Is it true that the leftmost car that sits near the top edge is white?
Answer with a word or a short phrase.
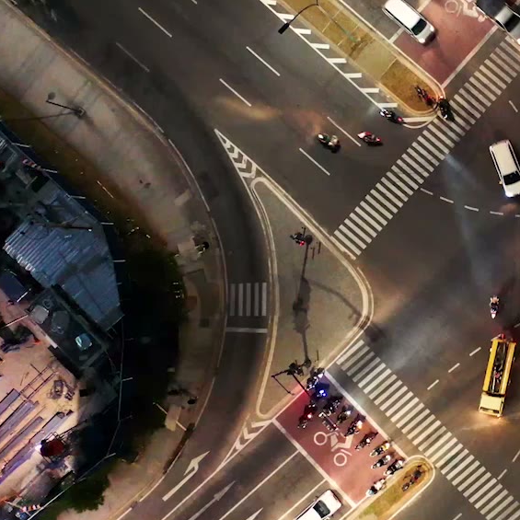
Yes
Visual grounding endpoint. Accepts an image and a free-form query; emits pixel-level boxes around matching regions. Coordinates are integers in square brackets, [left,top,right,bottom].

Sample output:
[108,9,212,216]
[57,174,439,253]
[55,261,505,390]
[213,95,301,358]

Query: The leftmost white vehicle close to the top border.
[382,0,434,43]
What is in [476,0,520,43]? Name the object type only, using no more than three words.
car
